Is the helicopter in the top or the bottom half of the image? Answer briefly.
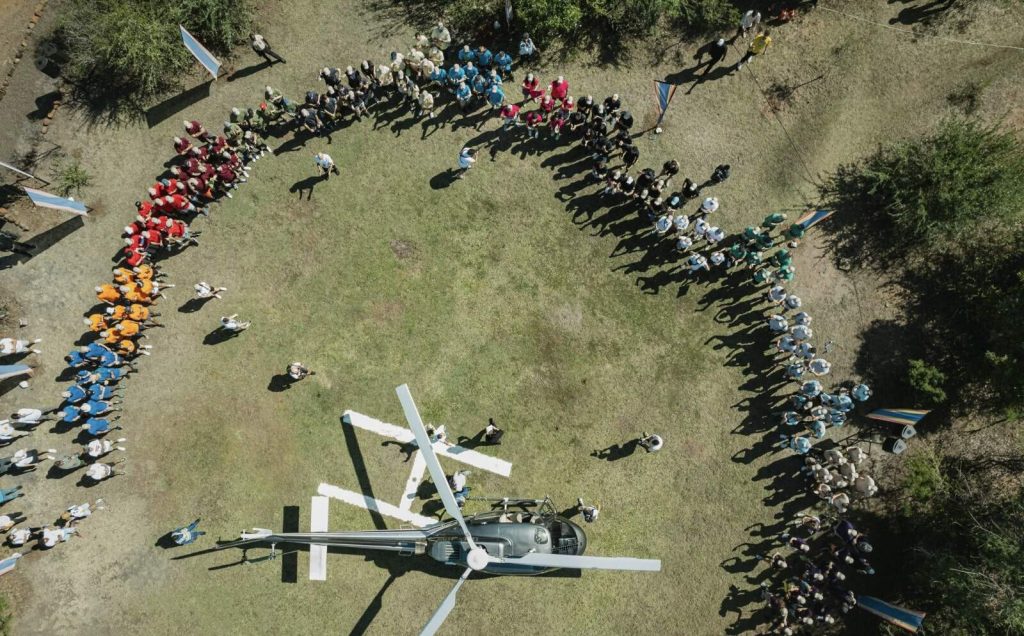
bottom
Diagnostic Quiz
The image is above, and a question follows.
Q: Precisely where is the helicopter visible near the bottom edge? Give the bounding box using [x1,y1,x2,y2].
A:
[210,388,662,636]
